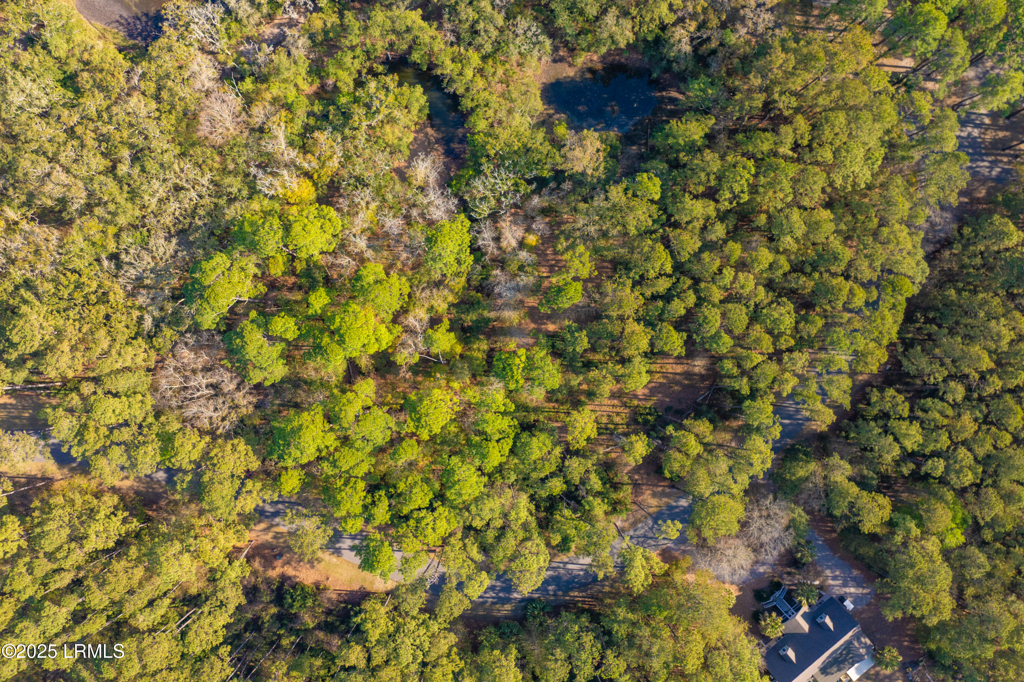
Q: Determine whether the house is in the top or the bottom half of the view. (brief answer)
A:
bottom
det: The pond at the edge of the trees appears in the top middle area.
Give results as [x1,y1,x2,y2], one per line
[545,65,657,131]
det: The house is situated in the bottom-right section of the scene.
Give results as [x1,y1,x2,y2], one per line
[758,588,877,682]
